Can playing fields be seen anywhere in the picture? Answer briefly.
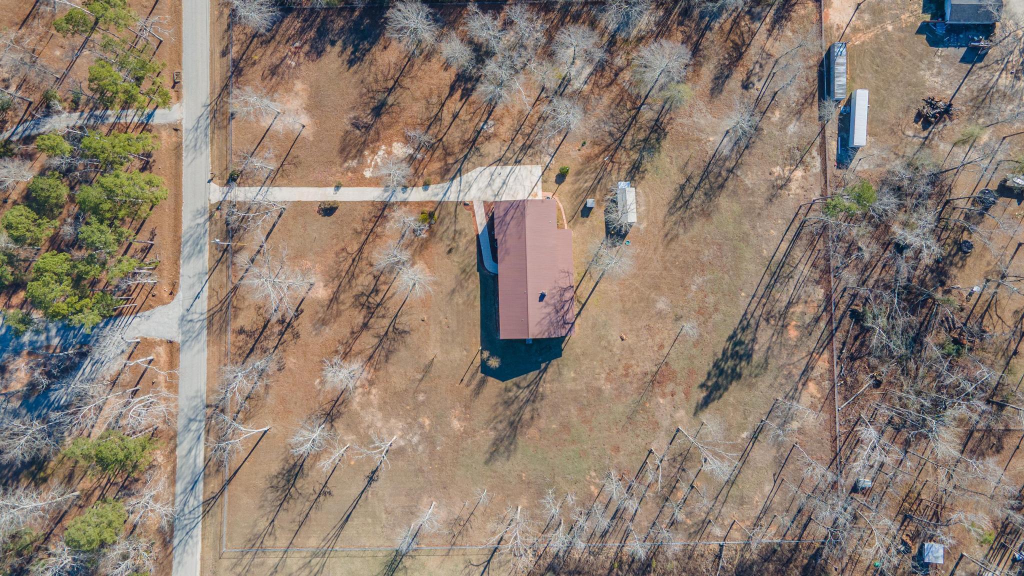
No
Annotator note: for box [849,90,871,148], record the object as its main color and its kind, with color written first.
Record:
white trailer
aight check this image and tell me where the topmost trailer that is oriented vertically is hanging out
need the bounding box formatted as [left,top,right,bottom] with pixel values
[829,39,850,101]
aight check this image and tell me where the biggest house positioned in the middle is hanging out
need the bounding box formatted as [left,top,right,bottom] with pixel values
[494,199,575,339]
